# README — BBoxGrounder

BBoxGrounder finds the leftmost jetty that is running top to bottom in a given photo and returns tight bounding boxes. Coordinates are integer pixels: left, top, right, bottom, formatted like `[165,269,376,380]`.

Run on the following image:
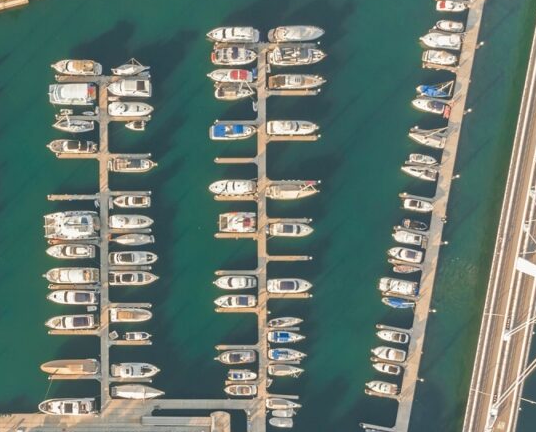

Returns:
[48,74,151,414]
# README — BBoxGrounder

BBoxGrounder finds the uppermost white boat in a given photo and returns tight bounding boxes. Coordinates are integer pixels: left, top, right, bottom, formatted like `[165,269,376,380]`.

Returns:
[434,0,468,12]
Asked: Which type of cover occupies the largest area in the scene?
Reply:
water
